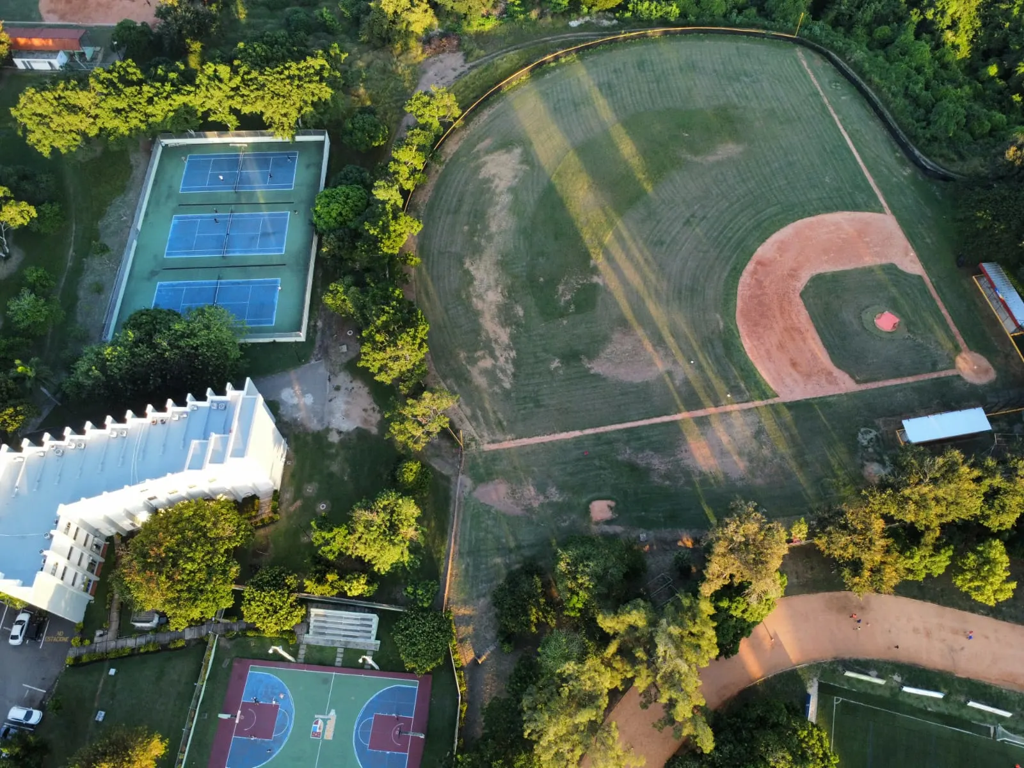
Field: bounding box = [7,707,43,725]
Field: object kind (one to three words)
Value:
car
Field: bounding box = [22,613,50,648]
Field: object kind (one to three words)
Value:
truck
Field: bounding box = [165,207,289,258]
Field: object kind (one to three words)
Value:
tennis court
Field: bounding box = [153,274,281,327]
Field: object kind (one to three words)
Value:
tennis court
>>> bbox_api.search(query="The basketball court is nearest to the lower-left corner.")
[208,657,432,768]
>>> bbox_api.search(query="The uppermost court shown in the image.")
[179,146,297,193]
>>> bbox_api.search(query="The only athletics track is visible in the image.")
[579,591,1024,768]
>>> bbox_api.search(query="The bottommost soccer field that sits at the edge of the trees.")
[814,680,1024,768]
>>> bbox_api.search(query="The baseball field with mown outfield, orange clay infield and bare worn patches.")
[404,35,1024,605]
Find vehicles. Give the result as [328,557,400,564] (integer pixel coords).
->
[22,613,50,648]
[7,707,43,725]
[10,613,34,645]
[0,725,20,743]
